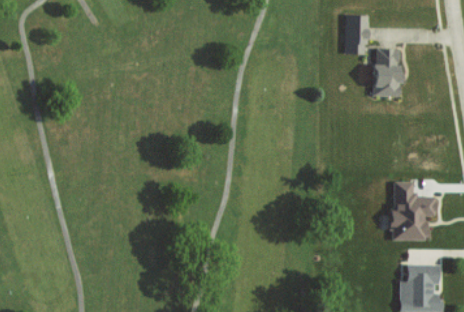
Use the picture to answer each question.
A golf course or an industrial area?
golf course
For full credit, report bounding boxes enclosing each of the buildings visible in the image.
[401,266,445,312]
[374,49,406,98]
[345,15,362,56]
[392,182,440,242]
